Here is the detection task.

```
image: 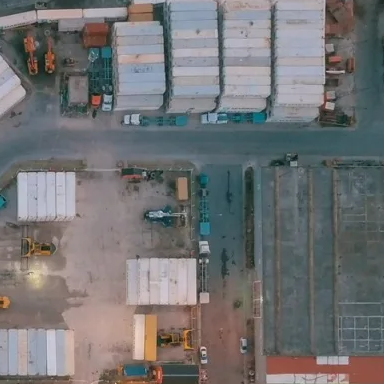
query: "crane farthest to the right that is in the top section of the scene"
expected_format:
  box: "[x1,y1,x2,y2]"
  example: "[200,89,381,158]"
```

[43,28,55,79]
